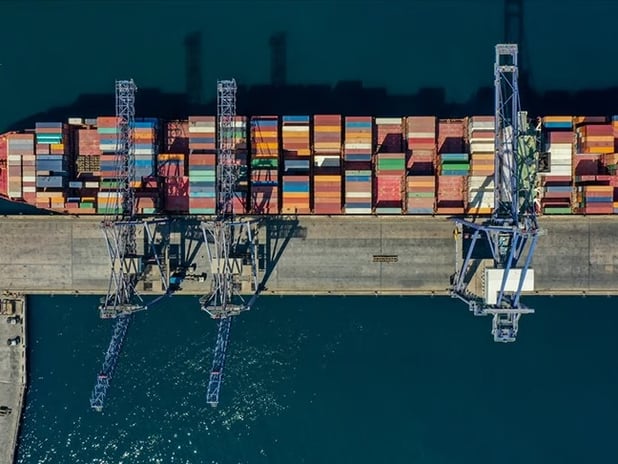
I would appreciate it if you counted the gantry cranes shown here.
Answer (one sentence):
In total, 3 gantry cranes can be seen.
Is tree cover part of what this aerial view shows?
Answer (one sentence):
No, there is no tree cover in the image.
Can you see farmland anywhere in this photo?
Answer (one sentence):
No, farmland can't be seen anywhere here.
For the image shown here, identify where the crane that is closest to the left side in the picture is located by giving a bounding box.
[88,75,179,412]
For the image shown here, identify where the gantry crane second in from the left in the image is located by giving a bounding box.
[202,75,267,412]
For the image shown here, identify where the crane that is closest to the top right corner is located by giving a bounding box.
[448,45,546,345]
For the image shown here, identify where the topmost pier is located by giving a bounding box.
[0,217,618,294]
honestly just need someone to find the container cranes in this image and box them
[448,45,546,345]
[88,75,179,412]
[202,75,267,412]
